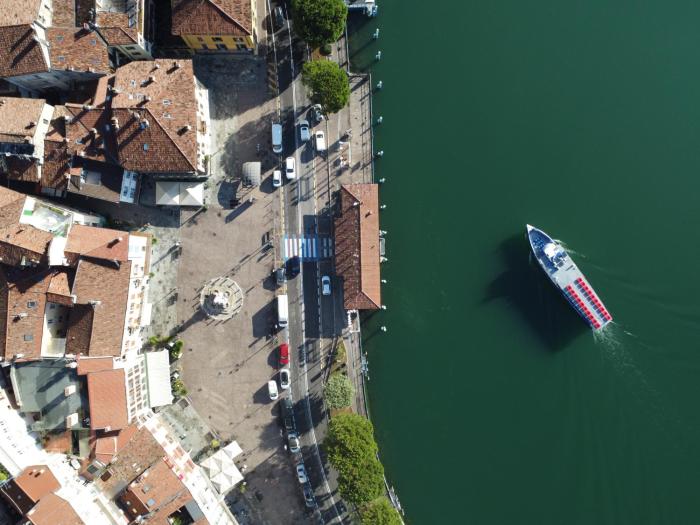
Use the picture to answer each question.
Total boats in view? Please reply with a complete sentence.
Altogether the scene contains 1 boat.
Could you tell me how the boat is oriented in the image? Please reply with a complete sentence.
Seen from above, the boat lies on a diagonal.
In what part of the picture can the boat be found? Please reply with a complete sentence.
The boat is in the right part of the image.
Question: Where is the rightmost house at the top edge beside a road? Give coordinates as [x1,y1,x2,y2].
[170,0,256,53]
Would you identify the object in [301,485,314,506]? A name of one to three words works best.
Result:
vehicle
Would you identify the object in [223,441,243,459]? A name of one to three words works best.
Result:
umbrella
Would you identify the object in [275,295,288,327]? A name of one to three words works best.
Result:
vehicle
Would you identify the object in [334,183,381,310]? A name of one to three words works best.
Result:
building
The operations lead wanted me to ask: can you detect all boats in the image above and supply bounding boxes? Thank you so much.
[527,224,615,332]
